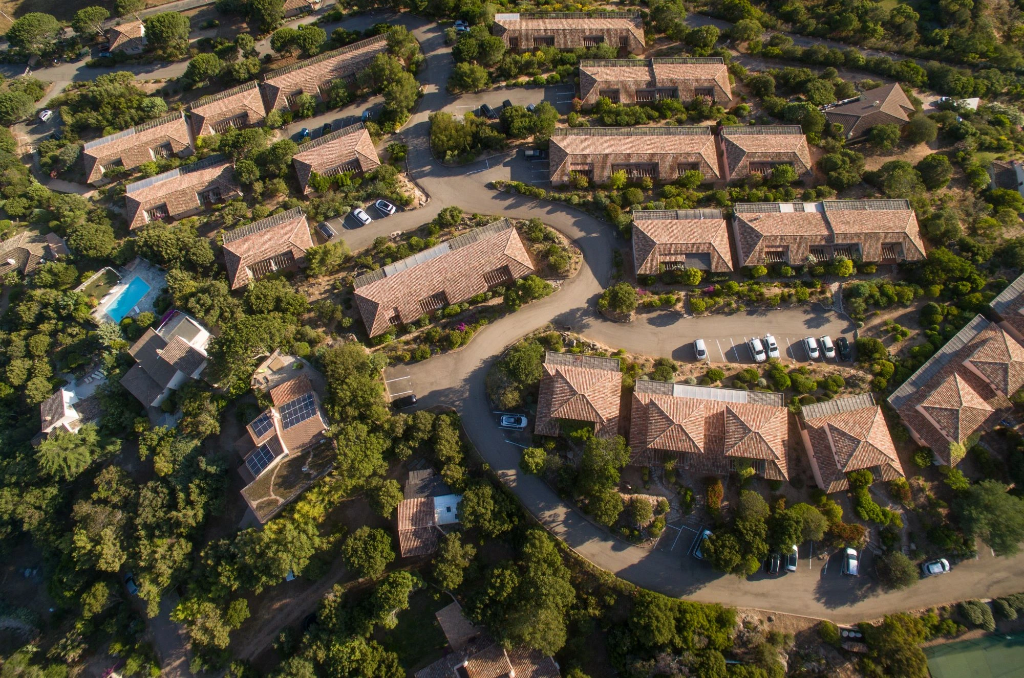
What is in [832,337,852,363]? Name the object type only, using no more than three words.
car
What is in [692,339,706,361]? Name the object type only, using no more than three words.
car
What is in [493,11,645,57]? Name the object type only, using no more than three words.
house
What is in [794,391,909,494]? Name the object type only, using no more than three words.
house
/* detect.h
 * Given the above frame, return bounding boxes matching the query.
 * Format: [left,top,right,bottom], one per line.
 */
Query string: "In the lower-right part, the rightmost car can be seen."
[920,560,949,575]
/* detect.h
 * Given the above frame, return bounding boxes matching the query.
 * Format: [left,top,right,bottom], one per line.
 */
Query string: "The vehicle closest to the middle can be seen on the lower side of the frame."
[499,416,528,429]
